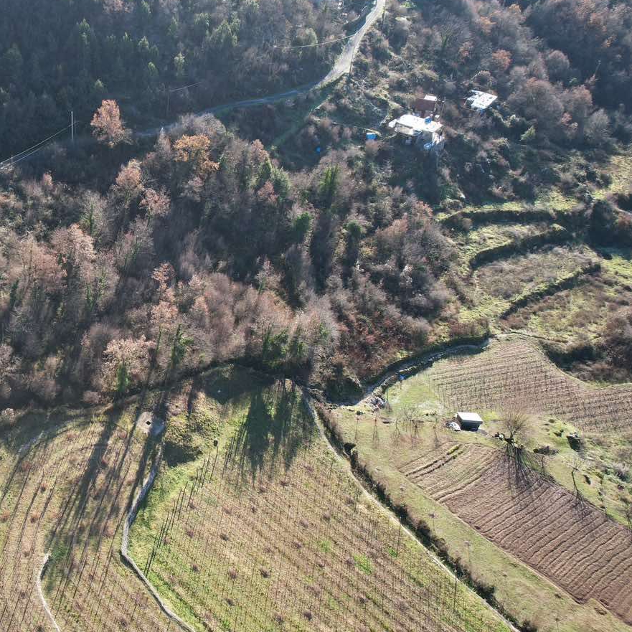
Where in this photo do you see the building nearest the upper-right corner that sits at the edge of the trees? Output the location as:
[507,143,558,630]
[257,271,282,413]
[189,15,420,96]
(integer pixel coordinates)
[463,91,498,122]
